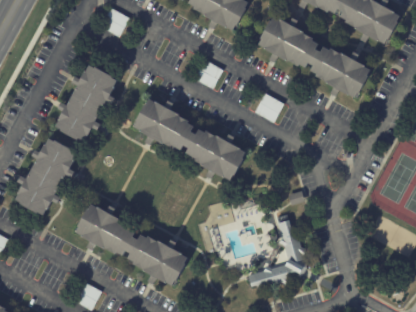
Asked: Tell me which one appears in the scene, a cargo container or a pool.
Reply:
pool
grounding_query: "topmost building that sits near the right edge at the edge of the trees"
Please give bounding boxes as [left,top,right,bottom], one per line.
[300,0,400,44]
